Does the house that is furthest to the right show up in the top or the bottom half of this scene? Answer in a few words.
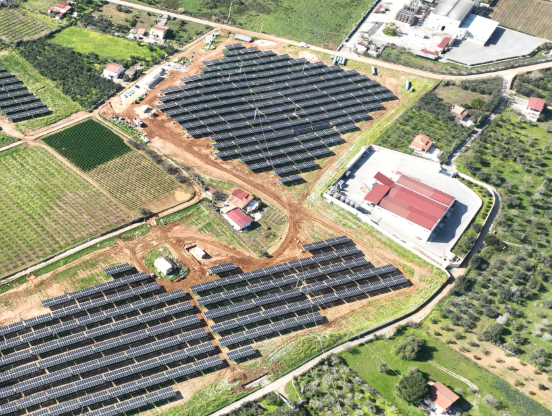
top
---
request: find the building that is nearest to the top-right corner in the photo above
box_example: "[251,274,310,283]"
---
[461,14,500,43]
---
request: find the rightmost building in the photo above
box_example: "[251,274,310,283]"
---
[521,98,545,123]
